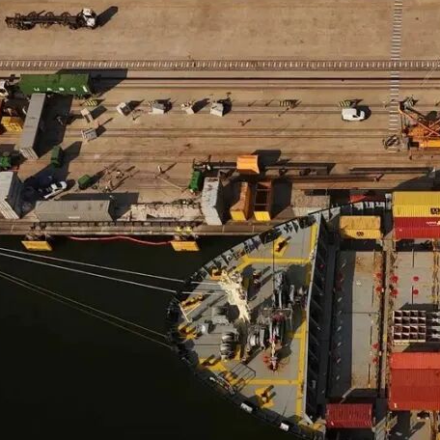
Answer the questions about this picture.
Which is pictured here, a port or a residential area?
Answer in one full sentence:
It's a port.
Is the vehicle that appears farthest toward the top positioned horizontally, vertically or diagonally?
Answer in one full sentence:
The vehicle that appears farthest toward the top has been laid out horizontally relative to the frame.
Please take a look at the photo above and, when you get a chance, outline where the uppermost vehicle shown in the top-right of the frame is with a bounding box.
[341,109,369,124]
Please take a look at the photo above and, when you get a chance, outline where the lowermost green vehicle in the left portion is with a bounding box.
[0,156,16,171]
